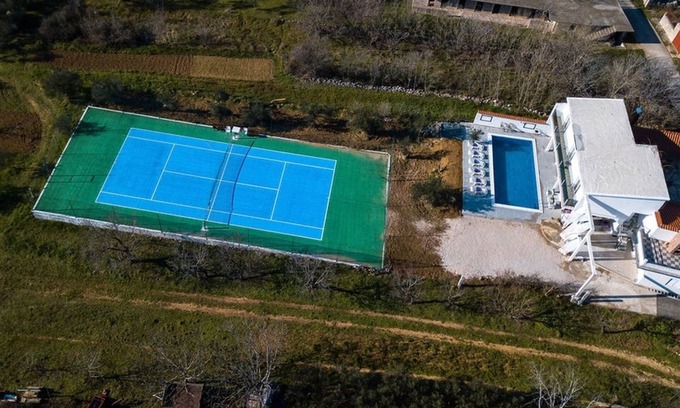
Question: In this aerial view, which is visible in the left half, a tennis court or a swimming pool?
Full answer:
It is a tennis court that can be seen in the left half.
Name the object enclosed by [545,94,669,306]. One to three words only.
house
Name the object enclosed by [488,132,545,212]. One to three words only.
swimming pool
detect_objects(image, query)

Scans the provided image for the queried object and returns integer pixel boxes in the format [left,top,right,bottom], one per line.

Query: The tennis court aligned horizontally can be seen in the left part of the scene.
[31,104,390,270]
